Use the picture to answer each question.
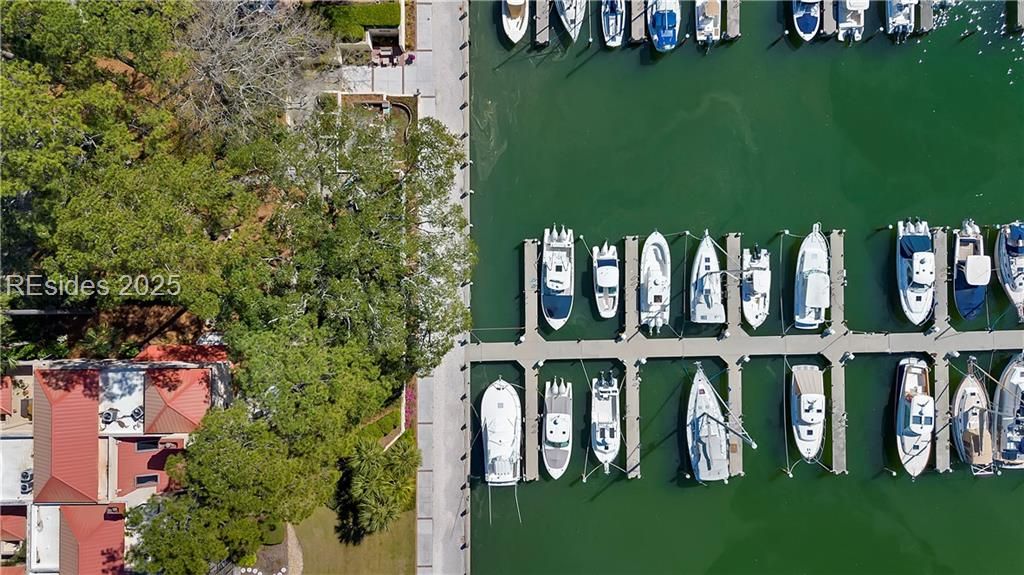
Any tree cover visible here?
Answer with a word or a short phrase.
Yes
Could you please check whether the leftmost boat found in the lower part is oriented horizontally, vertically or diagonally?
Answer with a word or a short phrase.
vertically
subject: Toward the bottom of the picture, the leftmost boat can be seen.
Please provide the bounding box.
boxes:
[479,375,523,529]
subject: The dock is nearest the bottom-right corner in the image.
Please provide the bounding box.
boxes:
[926,352,953,473]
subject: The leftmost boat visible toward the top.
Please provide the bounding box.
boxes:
[501,0,529,43]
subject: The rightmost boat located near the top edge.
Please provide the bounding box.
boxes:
[883,0,916,43]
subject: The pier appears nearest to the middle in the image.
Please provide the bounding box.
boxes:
[515,238,547,340]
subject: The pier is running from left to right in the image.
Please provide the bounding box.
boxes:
[471,330,1024,362]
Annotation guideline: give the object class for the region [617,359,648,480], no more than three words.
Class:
pier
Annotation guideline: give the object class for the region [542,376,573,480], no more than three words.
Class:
boat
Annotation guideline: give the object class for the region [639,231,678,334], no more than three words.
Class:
boat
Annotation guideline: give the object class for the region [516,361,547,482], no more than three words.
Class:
pier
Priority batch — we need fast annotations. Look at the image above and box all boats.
[741,245,771,330]
[992,223,1024,327]
[558,0,586,41]
[949,222,1004,321]
[836,0,869,42]
[949,363,1024,476]
[693,0,720,52]
[689,228,762,322]
[592,242,620,319]
[646,0,683,55]
[600,0,625,49]
[787,363,826,466]
[790,222,830,332]
[892,215,936,329]
[542,376,573,480]
[541,223,575,330]
[883,0,916,43]
[479,375,523,529]
[790,0,820,42]
[590,374,621,475]
[889,356,932,481]
[639,231,678,334]
[501,0,529,43]
[686,361,757,486]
